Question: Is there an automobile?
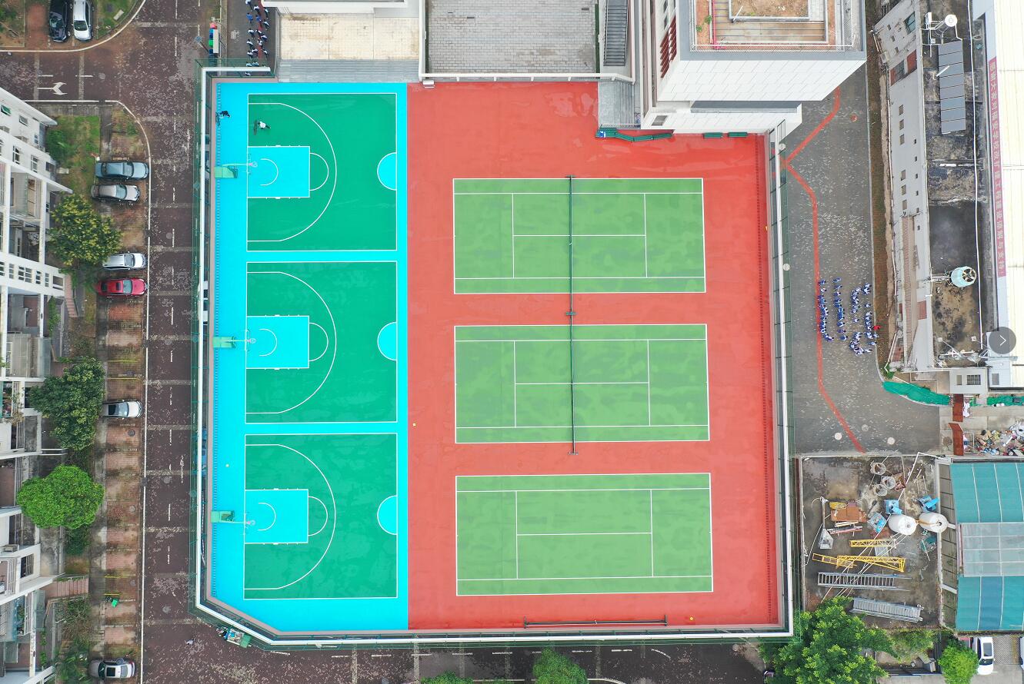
Yes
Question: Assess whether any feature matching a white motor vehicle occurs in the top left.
Yes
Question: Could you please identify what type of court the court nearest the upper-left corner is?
basketball court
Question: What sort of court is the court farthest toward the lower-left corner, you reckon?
basketball court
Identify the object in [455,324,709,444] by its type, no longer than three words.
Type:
tennis court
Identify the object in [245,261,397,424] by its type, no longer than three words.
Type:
basketball court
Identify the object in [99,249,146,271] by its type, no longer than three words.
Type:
car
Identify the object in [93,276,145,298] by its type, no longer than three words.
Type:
car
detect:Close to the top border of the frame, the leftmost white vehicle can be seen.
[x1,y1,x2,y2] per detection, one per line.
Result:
[69,0,94,37]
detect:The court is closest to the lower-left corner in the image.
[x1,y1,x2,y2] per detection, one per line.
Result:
[243,433,398,601]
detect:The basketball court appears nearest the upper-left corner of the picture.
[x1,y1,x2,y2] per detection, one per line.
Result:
[246,93,397,251]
